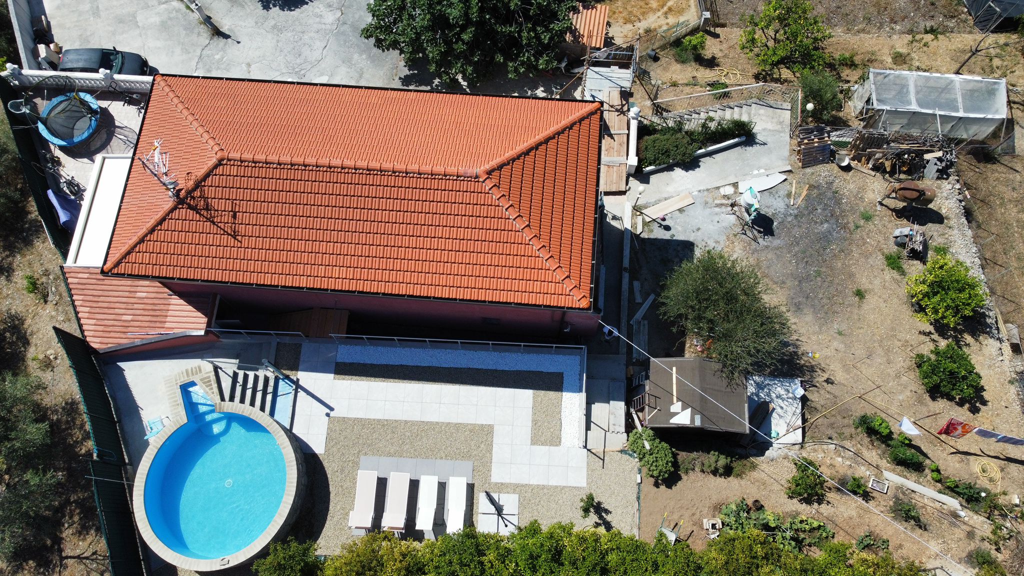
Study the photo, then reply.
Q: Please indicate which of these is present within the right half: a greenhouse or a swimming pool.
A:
greenhouse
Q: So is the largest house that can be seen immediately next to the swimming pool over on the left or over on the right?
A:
left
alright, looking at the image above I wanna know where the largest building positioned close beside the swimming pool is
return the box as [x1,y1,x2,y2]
[97,72,607,346]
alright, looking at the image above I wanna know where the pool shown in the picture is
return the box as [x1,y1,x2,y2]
[131,366,311,572]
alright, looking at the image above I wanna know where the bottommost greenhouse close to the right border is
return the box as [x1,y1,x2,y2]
[834,69,1007,143]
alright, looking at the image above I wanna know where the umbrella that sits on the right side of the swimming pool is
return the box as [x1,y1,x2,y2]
[479,491,519,533]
